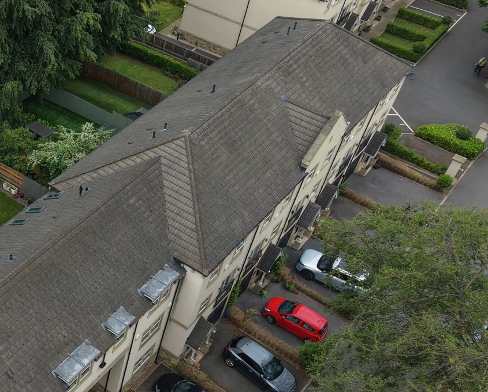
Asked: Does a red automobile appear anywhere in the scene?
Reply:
Yes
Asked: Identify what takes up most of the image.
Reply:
buildings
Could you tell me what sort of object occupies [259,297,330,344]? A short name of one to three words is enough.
car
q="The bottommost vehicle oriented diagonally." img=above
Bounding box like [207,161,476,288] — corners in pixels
[216,337,292,392]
